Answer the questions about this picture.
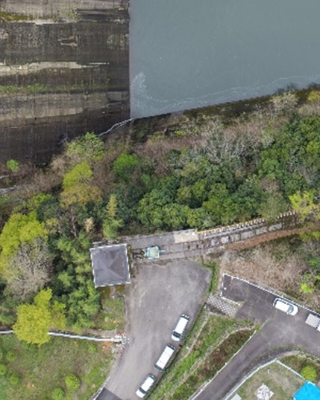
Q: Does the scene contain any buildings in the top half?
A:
No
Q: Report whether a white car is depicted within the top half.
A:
No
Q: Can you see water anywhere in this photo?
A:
Yes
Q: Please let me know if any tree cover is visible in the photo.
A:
Yes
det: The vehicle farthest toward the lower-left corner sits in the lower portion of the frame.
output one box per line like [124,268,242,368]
[135,375,157,400]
